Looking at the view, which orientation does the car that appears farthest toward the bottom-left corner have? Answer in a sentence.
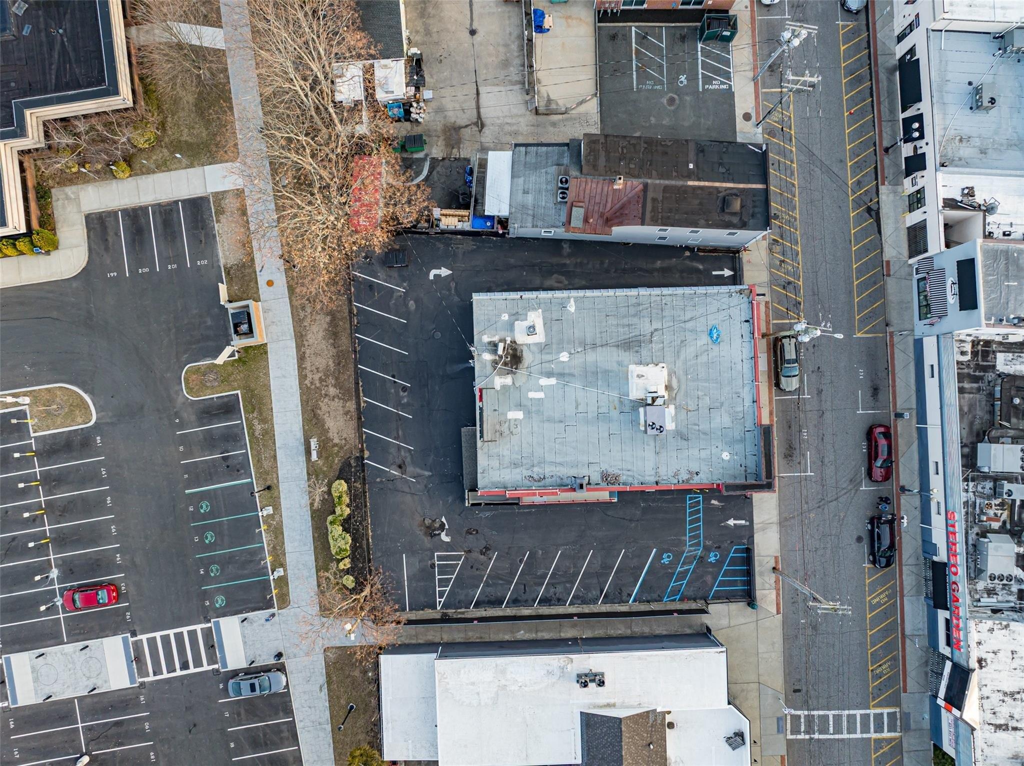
In this picture, the car that appears farthest toward the bottom-left corner lies horizontally.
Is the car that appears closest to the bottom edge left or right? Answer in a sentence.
It is on the left.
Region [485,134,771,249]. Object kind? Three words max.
building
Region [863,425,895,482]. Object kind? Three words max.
car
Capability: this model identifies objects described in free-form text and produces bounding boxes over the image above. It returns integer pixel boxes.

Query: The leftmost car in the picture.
[64,582,120,613]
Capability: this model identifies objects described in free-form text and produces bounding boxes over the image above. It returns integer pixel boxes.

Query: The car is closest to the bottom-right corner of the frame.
[865,516,898,574]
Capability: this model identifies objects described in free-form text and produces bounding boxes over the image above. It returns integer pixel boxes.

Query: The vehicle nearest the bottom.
[228,668,288,698]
